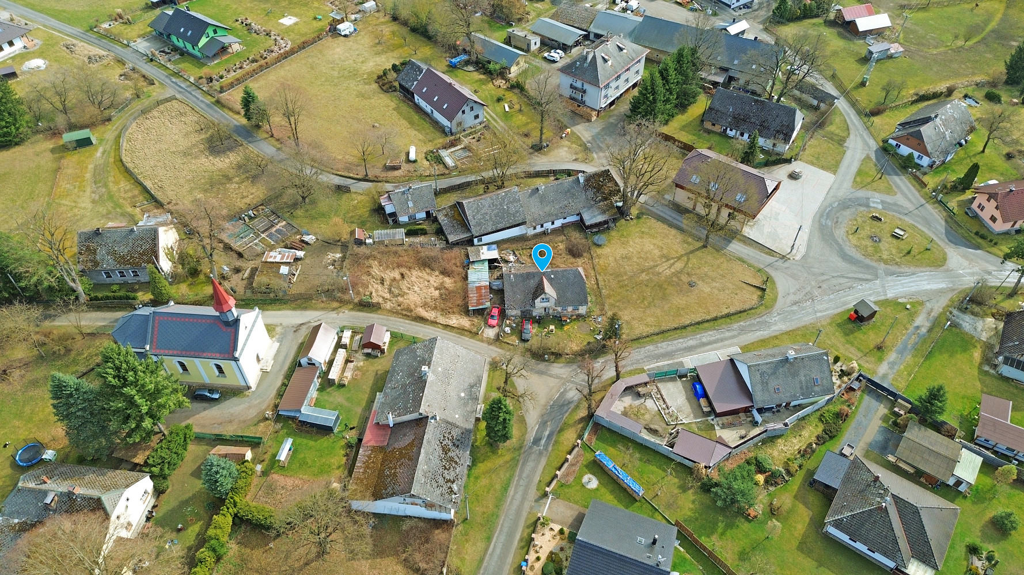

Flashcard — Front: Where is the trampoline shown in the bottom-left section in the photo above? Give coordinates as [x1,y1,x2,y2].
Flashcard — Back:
[4,433,46,470]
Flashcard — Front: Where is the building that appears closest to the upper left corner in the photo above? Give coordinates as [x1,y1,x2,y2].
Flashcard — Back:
[0,21,28,56]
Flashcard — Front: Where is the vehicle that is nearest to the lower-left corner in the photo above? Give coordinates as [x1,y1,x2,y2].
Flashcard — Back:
[190,386,222,401]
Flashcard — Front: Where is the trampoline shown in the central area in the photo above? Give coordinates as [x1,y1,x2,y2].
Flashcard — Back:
[590,231,610,248]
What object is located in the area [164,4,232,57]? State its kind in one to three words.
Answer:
house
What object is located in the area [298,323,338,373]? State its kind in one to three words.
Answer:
shed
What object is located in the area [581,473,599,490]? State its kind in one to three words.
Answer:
fountain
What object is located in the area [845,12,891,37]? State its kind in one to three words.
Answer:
building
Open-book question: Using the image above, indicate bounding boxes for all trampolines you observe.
[4,433,46,470]
[590,231,610,248]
